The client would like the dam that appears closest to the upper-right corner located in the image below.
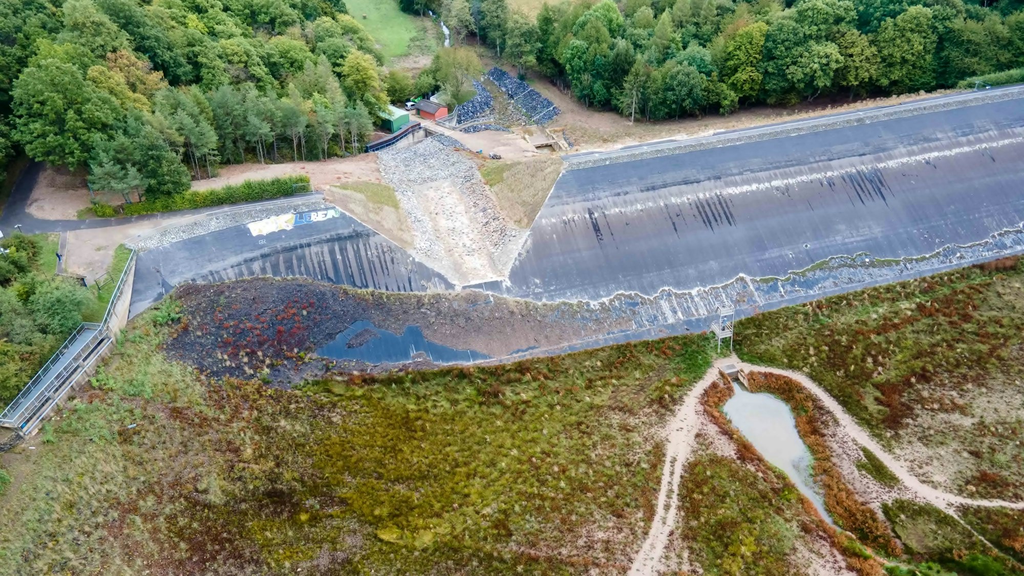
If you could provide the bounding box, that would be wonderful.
[122,88,1024,365]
